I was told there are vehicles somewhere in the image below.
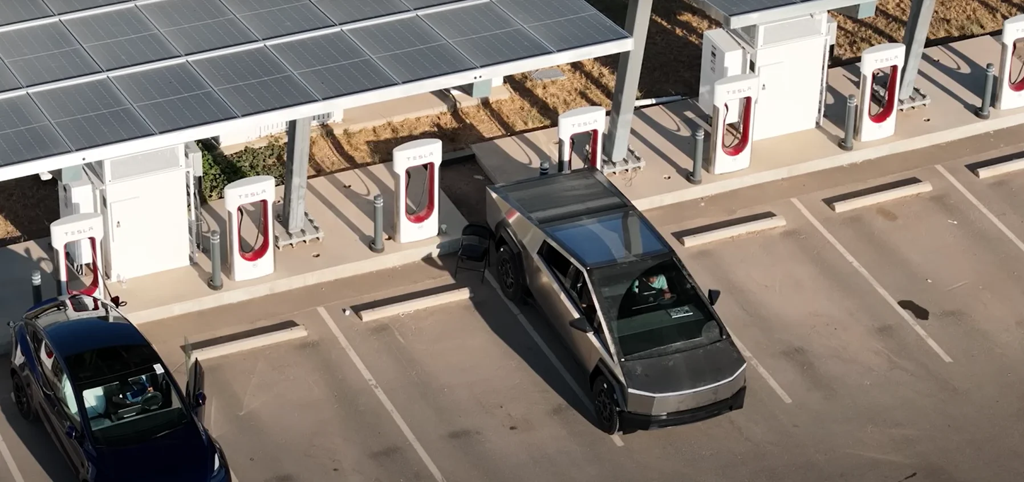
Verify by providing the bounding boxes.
[486,164,751,439]
[1,294,233,482]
